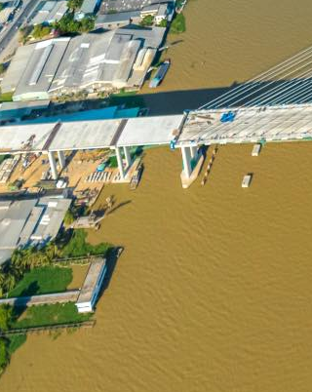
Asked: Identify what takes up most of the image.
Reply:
water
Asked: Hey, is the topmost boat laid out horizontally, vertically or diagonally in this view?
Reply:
diagonally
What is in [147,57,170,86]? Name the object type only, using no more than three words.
boat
